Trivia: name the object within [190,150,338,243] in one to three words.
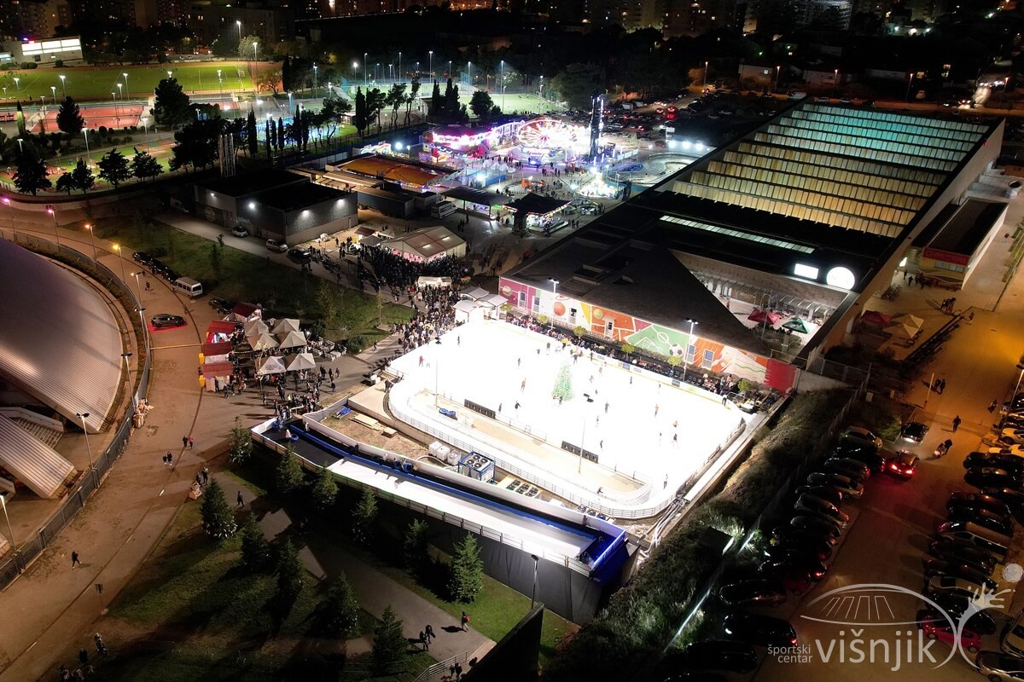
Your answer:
building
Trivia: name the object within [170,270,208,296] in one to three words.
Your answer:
vehicle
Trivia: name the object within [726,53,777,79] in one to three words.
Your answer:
house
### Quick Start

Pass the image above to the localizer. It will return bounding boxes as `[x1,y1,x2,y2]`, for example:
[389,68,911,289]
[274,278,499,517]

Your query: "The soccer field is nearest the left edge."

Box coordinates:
[0,63,257,99]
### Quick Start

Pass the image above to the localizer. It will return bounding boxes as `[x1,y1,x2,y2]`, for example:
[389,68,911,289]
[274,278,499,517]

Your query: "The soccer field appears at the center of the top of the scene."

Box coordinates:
[301,81,560,116]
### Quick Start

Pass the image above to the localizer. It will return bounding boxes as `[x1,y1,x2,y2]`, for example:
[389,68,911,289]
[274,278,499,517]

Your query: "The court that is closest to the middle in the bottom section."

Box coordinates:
[387,321,745,524]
